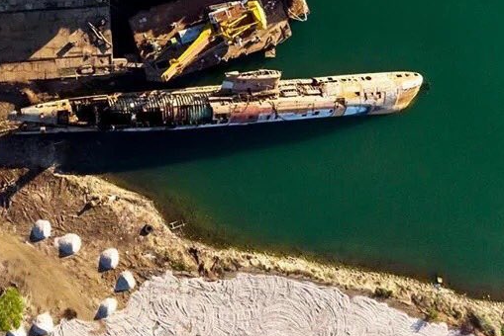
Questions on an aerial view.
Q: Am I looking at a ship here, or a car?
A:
ship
